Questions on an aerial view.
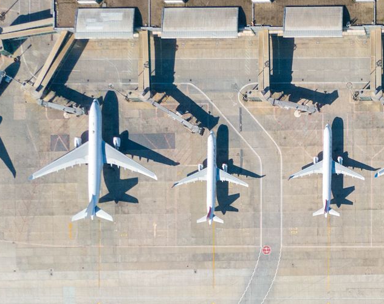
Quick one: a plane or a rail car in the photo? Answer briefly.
plane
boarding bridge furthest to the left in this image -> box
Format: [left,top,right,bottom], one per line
[36,100,88,118]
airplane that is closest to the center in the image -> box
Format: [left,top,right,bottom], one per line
[172,130,247,224]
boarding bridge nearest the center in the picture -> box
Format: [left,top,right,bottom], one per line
[149,99,206,135]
